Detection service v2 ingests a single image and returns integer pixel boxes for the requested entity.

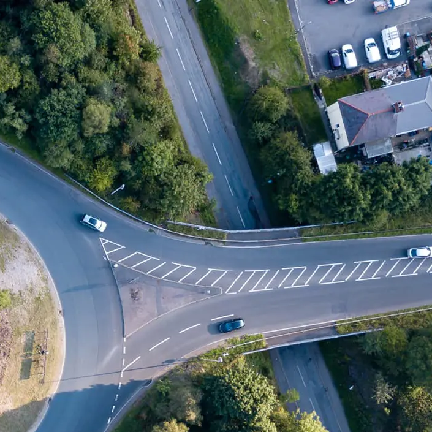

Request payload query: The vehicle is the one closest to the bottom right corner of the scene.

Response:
[405,244,432,258]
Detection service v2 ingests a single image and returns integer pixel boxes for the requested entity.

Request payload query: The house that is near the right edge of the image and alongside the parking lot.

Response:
[326,76,432,149]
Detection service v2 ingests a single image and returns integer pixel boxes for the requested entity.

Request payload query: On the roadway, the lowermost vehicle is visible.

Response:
[217,318,244,333]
